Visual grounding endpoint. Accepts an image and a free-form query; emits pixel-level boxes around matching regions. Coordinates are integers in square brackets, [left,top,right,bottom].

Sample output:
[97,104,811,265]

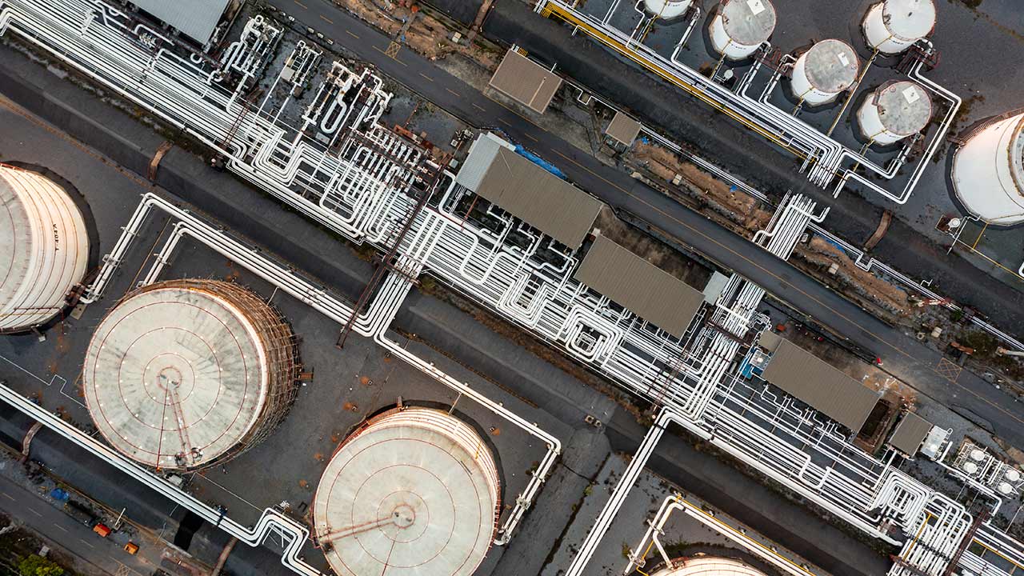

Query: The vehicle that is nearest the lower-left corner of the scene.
[64,502,116,539]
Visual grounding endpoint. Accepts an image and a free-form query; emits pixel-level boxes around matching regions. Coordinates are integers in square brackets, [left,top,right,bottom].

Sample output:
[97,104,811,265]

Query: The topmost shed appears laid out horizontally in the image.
[116,0,236,50]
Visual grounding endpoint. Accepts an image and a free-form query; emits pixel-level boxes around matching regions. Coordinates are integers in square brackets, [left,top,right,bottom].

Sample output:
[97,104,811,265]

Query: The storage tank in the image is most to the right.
[945,90,1024,231]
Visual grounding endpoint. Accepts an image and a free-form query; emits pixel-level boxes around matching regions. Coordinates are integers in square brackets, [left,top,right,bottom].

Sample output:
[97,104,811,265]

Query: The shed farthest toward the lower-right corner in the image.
[883,411,933,457]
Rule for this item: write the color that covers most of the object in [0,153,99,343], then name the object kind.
white storage tank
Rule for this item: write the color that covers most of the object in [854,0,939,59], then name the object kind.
white storage tank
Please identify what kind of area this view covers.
industrial area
